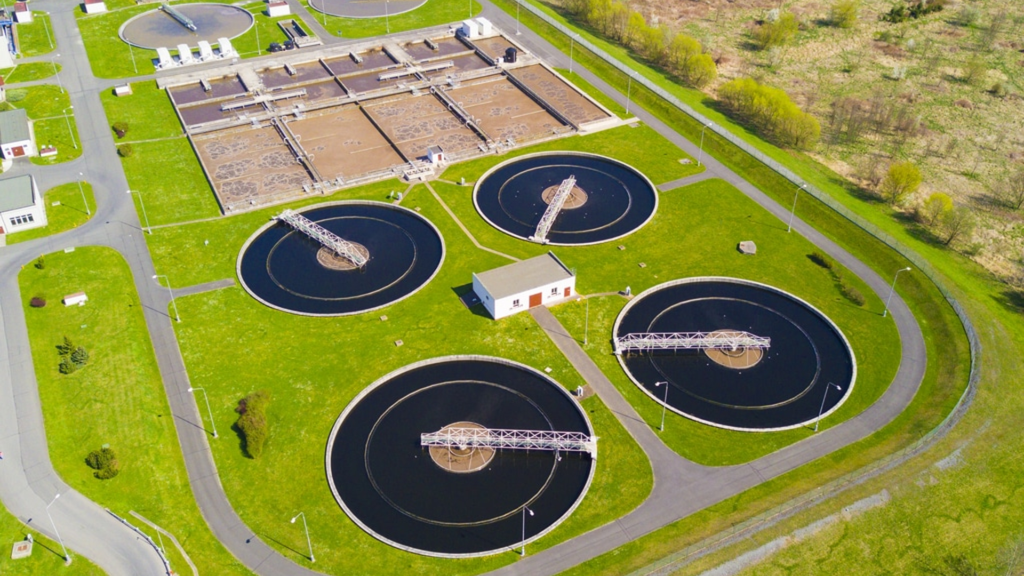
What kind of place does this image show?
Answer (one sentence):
It's an industrial area.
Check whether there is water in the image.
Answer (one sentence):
Yes, the picture does contain water.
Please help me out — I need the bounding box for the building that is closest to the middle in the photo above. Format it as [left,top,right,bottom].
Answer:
[471,245,576,319]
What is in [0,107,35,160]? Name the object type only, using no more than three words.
building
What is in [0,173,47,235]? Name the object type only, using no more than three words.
building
